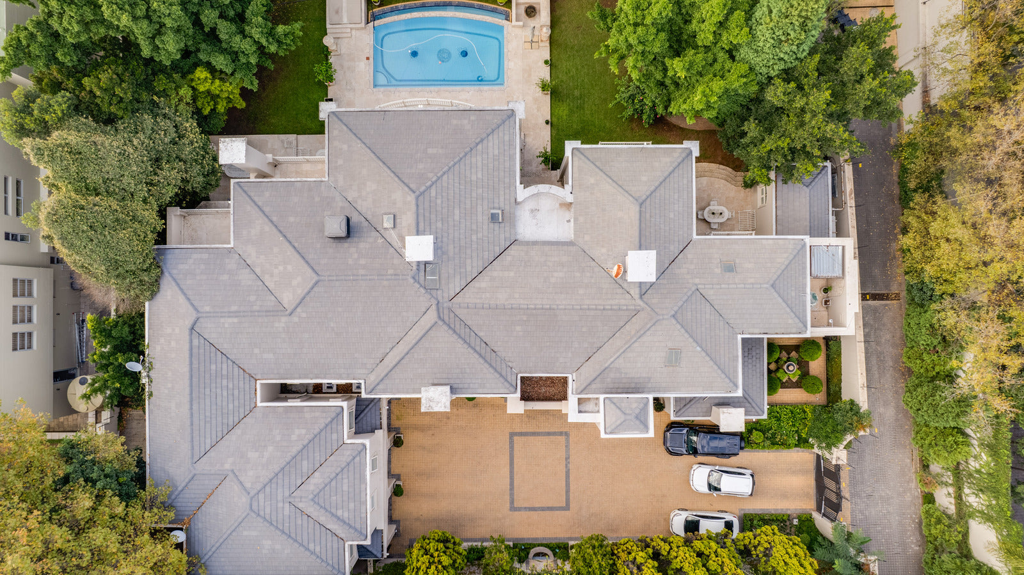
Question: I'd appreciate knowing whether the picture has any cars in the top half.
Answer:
No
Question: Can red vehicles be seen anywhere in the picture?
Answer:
No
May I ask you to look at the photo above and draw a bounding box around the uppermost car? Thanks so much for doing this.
[668,425,745,460]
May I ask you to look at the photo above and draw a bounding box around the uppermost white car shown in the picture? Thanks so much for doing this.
[689,464,755,498]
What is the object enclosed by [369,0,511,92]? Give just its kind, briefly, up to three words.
swimming pool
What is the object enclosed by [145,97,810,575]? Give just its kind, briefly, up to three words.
house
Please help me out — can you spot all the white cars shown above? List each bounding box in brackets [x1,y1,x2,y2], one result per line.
[689,464,755,498]
[670,507,738,537]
